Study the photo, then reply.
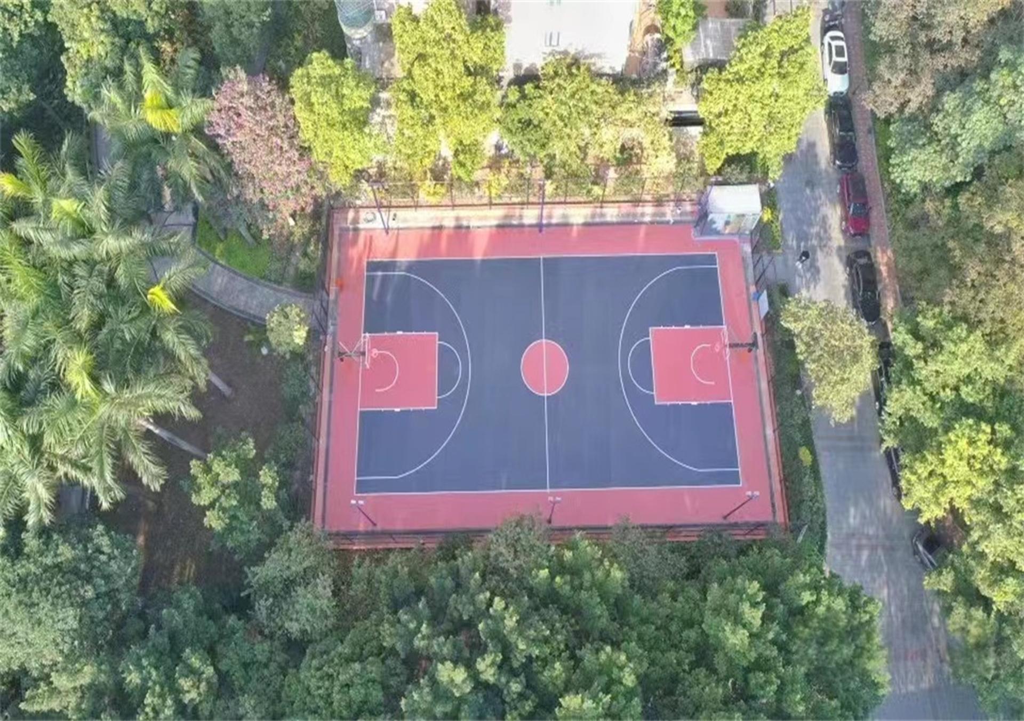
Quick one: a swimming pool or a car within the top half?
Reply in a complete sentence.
You can see a car within the top half.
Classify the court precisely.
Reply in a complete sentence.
The court is a basketball court.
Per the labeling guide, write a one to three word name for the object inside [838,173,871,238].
car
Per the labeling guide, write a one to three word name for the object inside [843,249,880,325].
car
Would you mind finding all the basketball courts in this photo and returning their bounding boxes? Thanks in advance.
[316,198,785,546]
